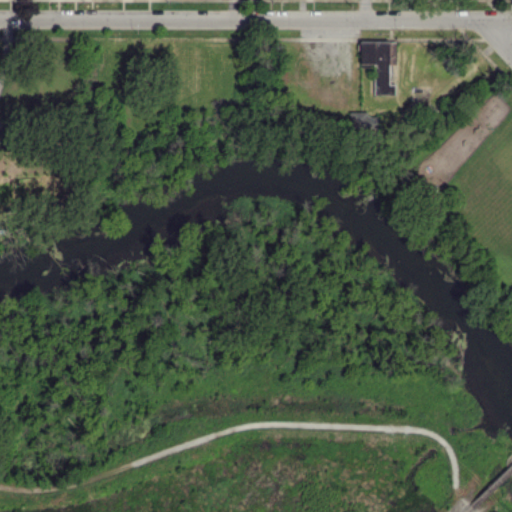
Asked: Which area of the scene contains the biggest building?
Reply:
top right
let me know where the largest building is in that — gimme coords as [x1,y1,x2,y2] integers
[360,42,398,95]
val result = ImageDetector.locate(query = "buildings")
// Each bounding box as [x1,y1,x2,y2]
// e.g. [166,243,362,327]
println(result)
[350,110,379,128]
[360,42,398,95]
